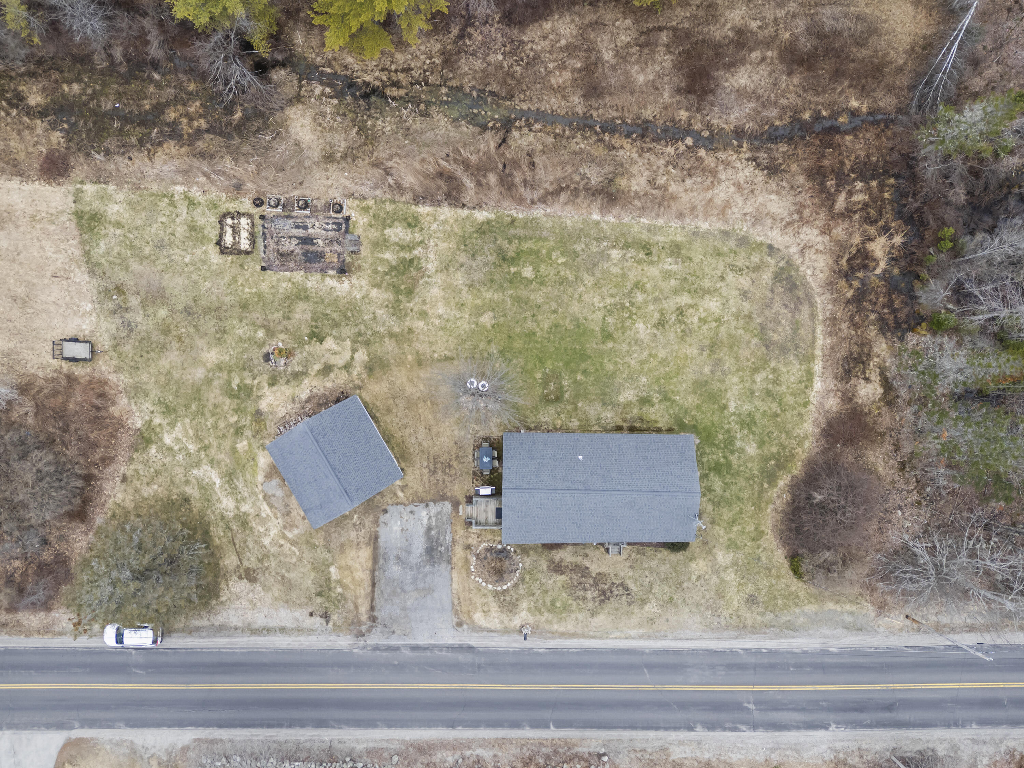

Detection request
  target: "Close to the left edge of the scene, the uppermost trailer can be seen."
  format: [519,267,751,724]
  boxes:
[47,337,104,363]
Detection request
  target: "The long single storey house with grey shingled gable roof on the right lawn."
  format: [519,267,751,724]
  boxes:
[502,430,701,543]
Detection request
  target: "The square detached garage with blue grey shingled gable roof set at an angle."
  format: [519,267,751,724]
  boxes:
[267,394,406,527]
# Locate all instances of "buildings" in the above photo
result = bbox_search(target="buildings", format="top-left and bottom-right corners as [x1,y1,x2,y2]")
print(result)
[502,430,701,543]
[267,394,406,527]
